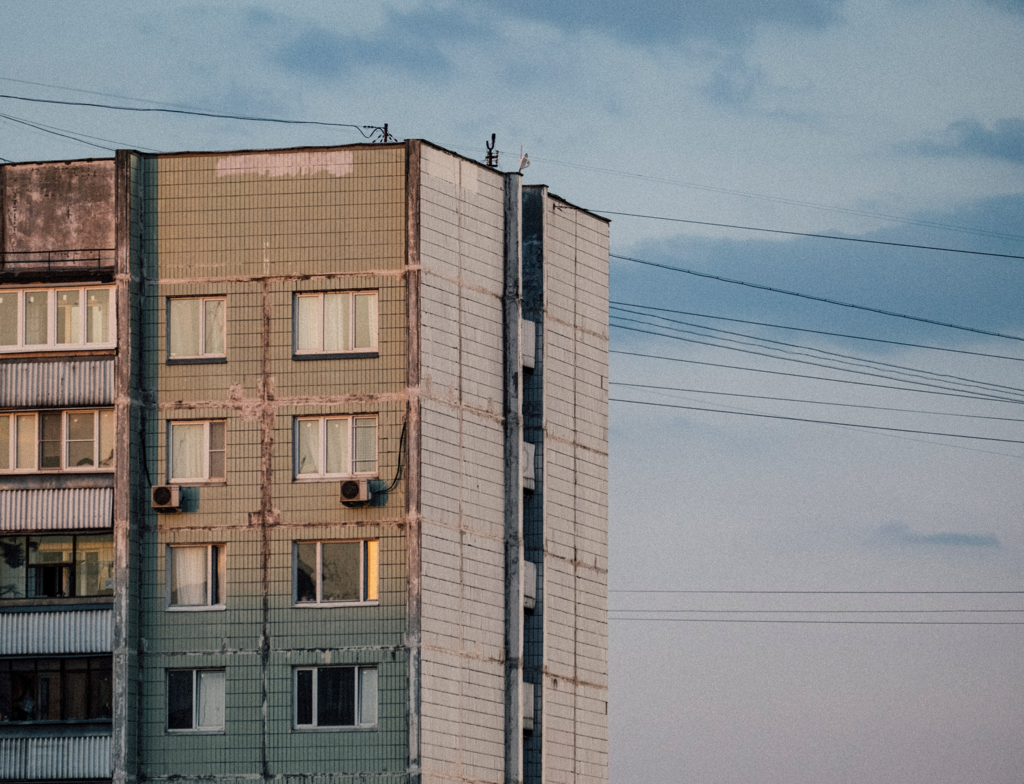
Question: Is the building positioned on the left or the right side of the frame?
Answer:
left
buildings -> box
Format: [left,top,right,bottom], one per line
[0,139,611,784]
